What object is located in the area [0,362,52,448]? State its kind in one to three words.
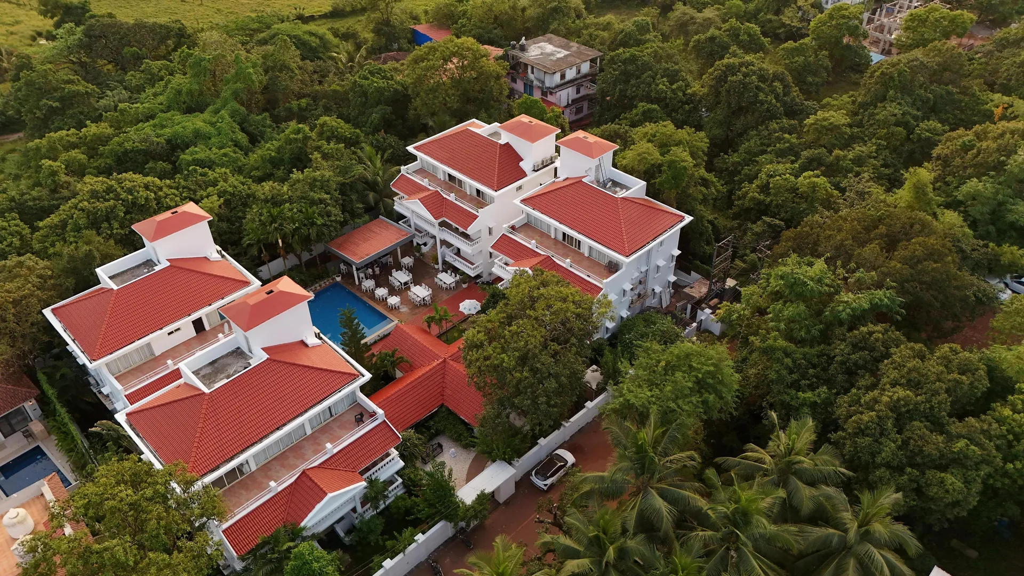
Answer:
house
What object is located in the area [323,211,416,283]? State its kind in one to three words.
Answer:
building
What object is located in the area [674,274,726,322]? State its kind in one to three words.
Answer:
shed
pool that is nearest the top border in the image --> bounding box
[309,281,391,350]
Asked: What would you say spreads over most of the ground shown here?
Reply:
trees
